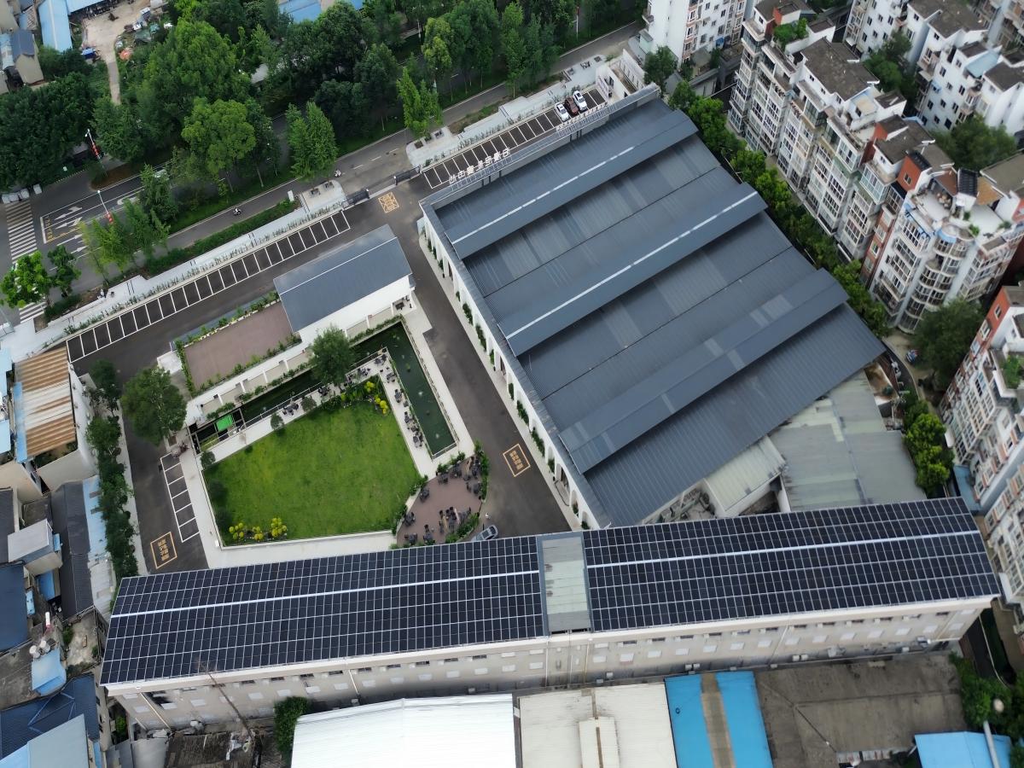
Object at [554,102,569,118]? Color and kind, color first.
white car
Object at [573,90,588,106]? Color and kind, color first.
white car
